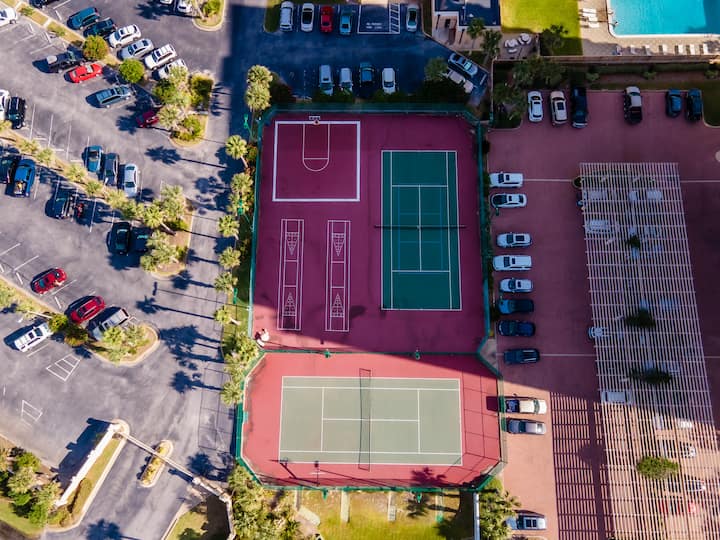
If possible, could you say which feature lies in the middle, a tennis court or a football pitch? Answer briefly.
tennis court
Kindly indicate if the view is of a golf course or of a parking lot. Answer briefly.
parking lot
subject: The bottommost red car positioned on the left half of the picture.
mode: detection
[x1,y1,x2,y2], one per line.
[70,296,106,323]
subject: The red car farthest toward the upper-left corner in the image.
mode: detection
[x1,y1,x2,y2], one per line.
[70,63,103,84]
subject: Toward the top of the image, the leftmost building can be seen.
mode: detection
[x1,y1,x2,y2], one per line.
[434,0,503,44]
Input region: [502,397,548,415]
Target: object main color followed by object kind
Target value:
white vehicle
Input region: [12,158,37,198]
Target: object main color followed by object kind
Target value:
blue truck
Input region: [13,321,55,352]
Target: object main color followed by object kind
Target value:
white car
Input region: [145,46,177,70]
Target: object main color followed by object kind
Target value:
white car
